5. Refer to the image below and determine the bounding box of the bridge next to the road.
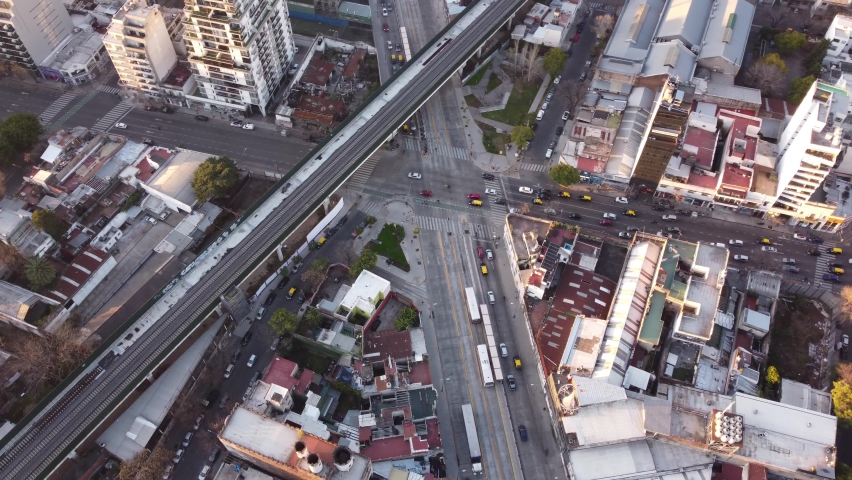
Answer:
[0,0,530,480]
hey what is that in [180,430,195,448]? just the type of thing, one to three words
car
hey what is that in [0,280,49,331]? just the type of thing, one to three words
house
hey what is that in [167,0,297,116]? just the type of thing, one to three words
building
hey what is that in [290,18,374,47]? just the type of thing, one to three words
sports field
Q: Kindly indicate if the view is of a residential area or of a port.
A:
residential area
